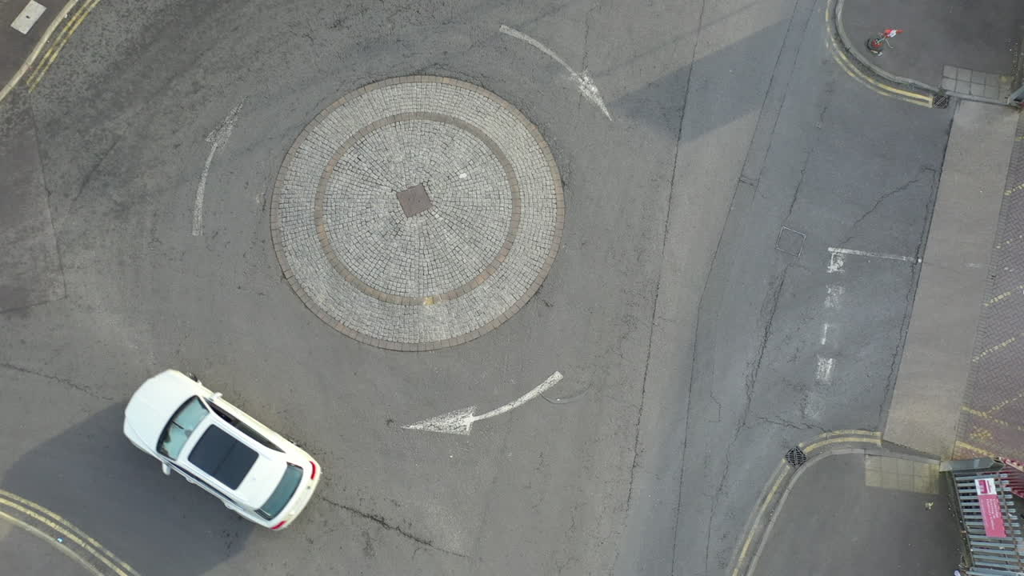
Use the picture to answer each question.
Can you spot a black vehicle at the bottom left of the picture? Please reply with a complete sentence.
No, no black vehicle appears at the bottom left of the picture.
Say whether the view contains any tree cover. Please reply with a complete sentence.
No, tree cover can't be seen anywhere here.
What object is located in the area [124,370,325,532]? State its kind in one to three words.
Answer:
car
